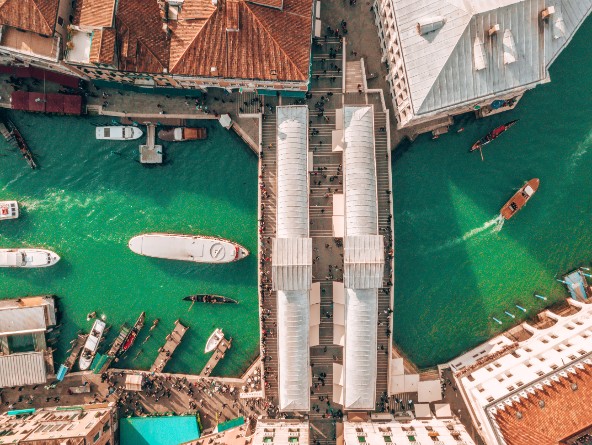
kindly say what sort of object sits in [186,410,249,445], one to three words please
house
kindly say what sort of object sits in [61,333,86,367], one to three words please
pier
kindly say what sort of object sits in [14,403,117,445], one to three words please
house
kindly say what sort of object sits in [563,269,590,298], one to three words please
pier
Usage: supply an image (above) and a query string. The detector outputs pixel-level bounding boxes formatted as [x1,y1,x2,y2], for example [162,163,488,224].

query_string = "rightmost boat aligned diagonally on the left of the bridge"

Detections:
[205,328,224,353]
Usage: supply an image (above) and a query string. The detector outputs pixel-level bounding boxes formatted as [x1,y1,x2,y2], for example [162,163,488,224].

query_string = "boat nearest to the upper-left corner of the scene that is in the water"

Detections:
[5,117,34,169]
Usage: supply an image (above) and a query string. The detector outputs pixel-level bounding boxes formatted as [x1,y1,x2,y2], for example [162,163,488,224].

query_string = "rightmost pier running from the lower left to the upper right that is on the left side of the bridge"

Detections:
[202,338,232,376]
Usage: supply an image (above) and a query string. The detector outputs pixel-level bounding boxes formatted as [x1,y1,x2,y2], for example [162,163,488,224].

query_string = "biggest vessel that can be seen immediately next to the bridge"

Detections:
[127,235,249,264]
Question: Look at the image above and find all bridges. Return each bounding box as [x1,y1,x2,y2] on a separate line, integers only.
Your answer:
[258,85,395,416]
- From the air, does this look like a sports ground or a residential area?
residential area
